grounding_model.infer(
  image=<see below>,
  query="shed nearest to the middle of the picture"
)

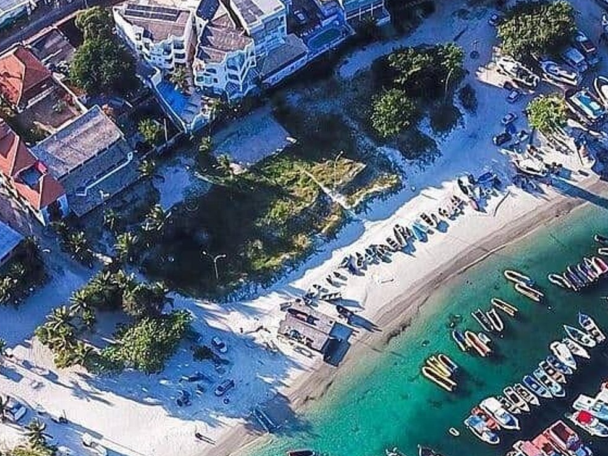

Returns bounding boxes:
[279,305,335,356]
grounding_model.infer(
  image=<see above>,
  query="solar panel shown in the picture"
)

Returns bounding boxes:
[124,1,180,21]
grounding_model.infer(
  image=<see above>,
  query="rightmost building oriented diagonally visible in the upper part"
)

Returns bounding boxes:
[259,32,315,88]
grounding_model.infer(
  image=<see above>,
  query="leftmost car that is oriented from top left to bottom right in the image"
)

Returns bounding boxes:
[209,335,229,355]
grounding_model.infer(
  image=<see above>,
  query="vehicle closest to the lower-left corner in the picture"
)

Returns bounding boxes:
[7,403,30,424]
